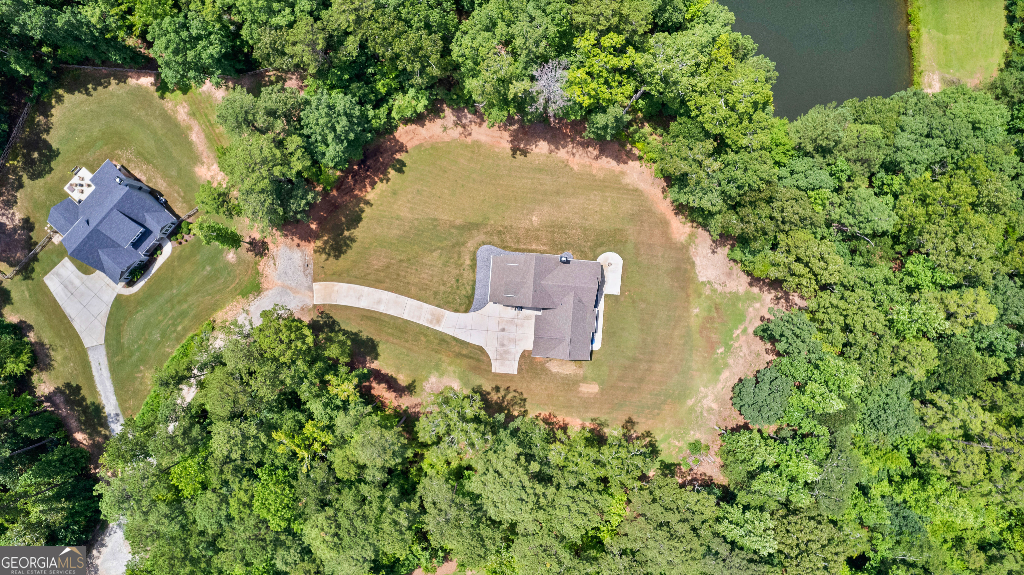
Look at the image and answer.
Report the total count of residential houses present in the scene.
2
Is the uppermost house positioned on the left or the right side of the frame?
left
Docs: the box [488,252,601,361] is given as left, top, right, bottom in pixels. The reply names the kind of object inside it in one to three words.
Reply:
house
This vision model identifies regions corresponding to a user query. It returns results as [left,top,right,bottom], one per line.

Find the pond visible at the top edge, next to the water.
[718,0,915,115]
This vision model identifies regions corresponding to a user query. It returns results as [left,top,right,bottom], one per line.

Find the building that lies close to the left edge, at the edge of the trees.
[48,159,181,287]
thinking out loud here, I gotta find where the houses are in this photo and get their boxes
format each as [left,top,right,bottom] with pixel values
[48,159,181,287]
[488,252,601,361]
